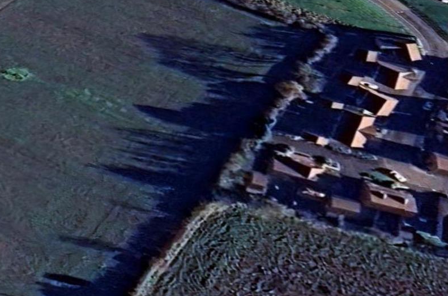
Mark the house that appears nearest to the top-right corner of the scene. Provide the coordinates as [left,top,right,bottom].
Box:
[390,42,428,71]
